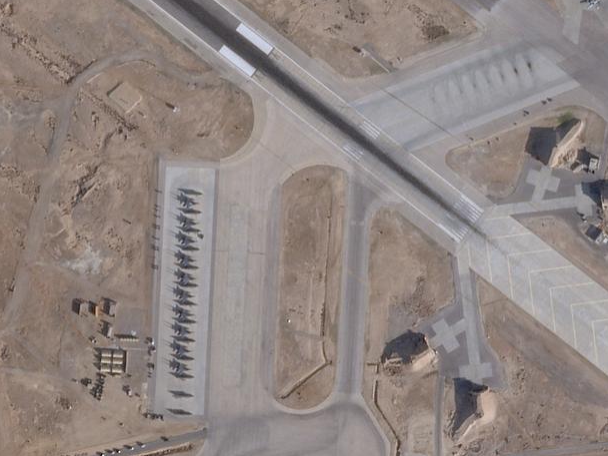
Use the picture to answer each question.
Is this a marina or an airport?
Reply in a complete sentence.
The area seen from above is an airport.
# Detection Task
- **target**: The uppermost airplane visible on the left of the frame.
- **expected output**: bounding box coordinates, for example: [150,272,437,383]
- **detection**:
[182,194,201,207]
